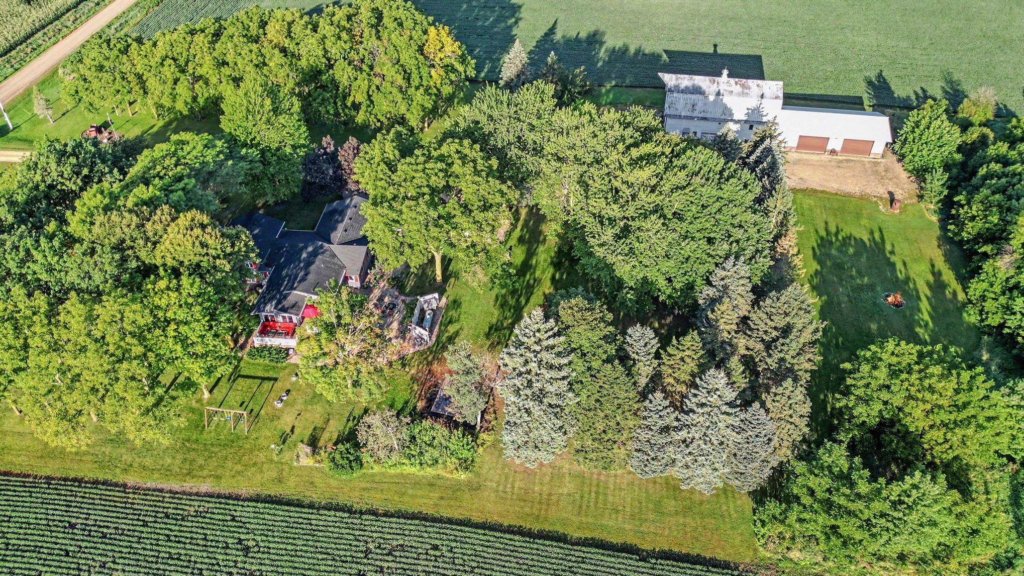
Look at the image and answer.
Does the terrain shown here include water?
No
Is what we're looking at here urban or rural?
rural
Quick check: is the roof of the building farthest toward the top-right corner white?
Yes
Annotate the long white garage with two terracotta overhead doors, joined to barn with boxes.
[781,105,893,160]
